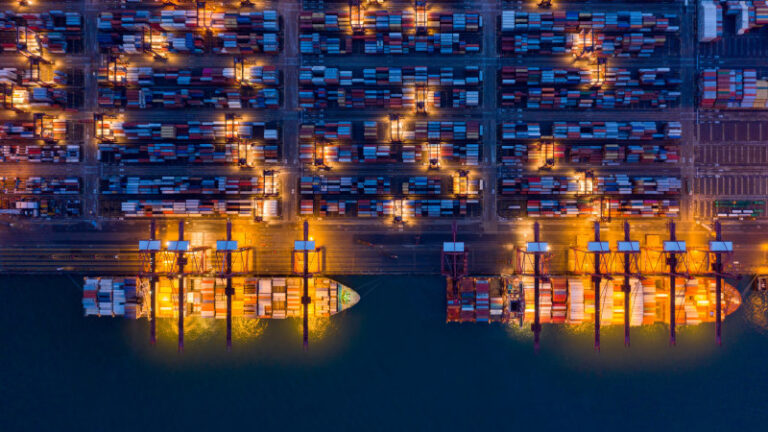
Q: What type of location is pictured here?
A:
port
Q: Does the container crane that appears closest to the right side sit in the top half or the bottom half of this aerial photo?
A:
bottom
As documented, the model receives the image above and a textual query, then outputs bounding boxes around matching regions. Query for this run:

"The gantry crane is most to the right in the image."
[676,222,743,349]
